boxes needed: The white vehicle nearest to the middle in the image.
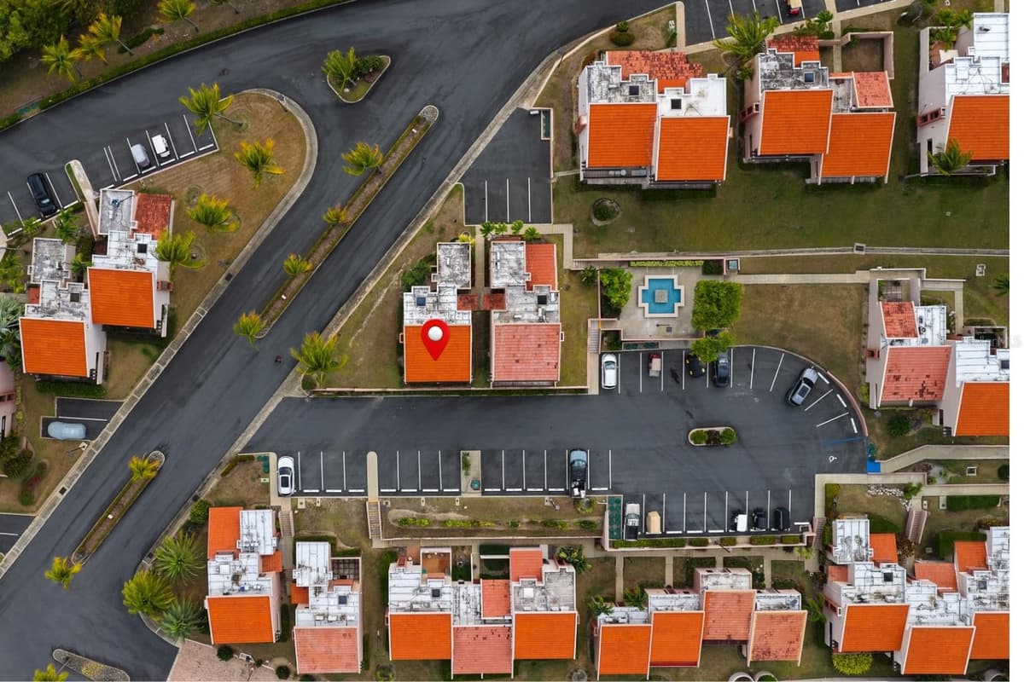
[600,354,618,390]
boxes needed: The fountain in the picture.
[637,275,684,317]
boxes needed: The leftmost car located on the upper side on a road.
[27,175,57,217]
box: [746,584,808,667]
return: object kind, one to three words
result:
house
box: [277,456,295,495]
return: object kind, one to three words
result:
car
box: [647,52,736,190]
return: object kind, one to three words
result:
house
